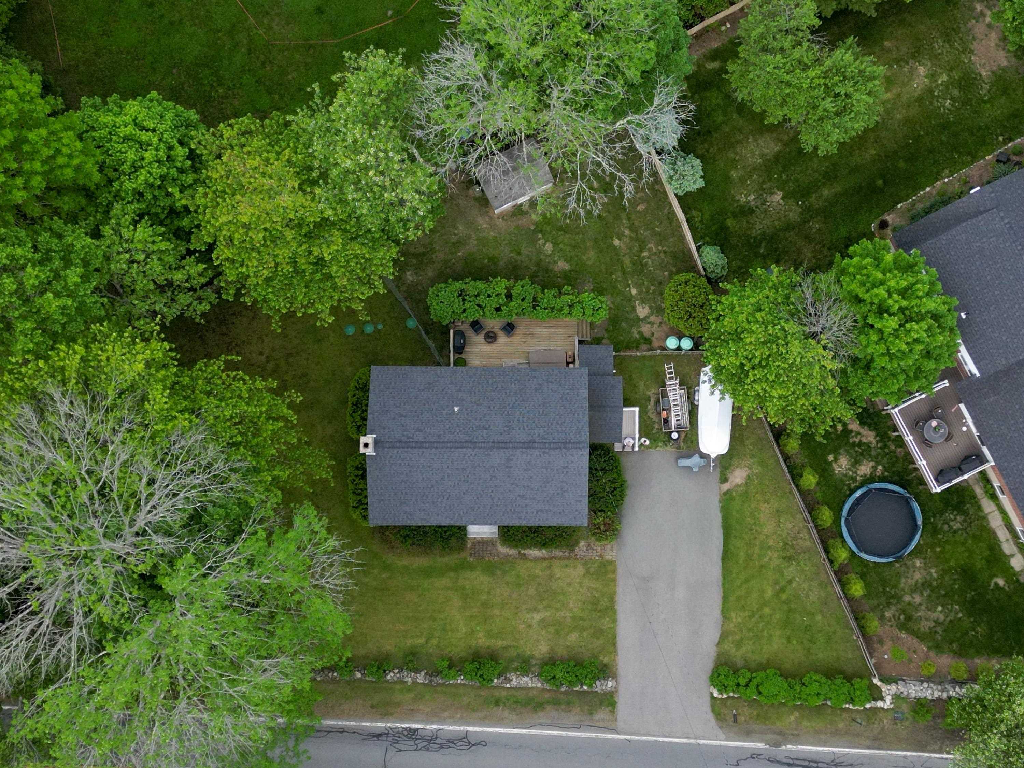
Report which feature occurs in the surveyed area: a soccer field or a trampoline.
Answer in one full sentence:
It is a trampoline that can be seen here.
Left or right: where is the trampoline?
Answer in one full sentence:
The trampoline sits on the right side.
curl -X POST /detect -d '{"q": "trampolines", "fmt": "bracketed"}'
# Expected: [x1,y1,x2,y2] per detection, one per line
[838,482,923,563]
